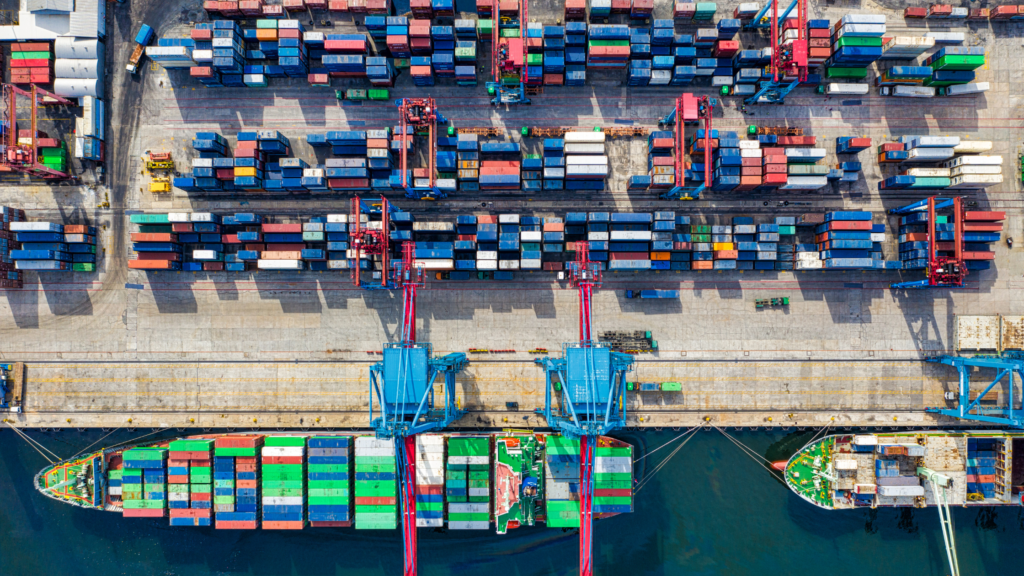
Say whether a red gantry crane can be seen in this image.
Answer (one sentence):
Yes, looking at the shot, I can spot a red gantry crane.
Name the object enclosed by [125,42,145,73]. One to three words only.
vehicle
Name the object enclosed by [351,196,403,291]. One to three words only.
container crane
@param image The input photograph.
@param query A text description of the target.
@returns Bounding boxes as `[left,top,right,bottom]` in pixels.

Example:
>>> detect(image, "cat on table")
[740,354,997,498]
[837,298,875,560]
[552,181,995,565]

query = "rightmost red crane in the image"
[887,198,964,289]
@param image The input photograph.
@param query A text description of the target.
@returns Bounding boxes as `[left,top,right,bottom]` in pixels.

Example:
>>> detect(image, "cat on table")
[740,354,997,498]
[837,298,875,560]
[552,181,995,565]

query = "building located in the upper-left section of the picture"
[0,0,107,102]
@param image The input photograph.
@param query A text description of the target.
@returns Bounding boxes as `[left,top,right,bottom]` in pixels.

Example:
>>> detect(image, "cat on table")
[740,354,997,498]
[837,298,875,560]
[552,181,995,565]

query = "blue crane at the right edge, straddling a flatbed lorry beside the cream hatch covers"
[928,354,1024,438]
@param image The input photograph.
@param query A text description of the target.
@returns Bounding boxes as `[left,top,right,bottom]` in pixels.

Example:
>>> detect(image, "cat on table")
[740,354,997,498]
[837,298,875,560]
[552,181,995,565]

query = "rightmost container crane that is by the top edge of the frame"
[744,0,807,101]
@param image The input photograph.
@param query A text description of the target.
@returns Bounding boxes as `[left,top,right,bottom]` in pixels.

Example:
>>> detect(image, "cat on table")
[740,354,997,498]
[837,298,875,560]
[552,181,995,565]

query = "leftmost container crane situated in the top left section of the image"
[5,84,84,178]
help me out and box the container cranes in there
[656,93,712,200]
[398,99,447,200]
[744,0,807,101]
[351,196,403,291]
[534,243,632,576]
[488,0,530,102]
[887,198,964,289]
[365,243,470,576]
[5,84,84,178]
[928,354,1024,438]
